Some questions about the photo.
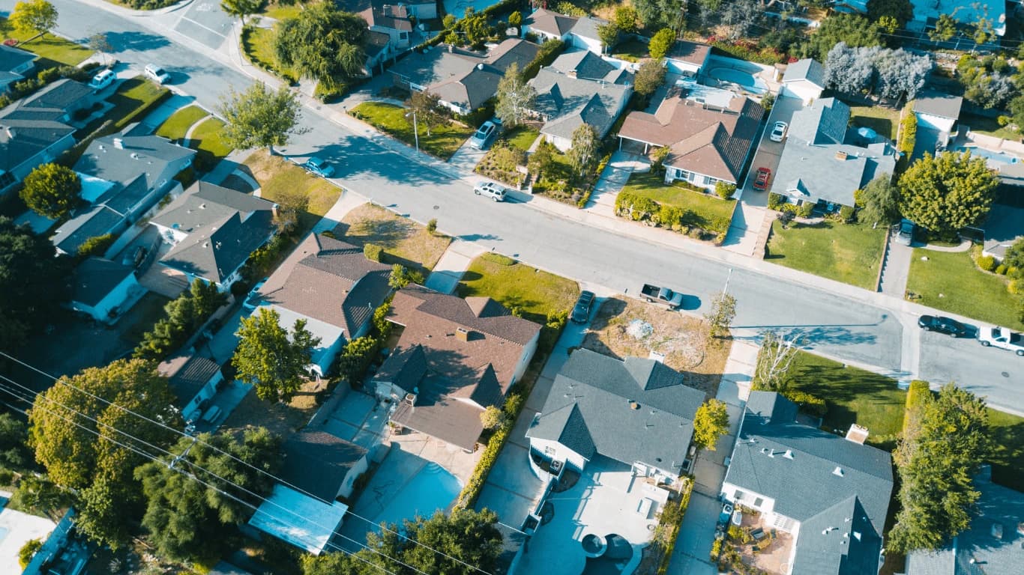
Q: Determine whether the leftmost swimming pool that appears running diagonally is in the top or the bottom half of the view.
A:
bottom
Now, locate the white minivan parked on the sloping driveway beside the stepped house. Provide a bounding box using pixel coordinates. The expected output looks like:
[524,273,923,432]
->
[88,65,122,91]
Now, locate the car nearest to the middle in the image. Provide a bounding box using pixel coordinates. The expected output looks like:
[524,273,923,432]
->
[567,288,598,326]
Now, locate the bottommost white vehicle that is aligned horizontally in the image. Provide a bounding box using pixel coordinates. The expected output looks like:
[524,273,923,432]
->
[979,329,1024,356]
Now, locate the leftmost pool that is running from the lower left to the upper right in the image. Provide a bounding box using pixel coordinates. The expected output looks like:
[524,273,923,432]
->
[353,456,466,573]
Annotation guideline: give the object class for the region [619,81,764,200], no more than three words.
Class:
house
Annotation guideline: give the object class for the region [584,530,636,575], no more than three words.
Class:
swimming pool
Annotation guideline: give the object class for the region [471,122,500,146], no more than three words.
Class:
car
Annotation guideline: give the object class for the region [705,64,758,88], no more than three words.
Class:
swimming pool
